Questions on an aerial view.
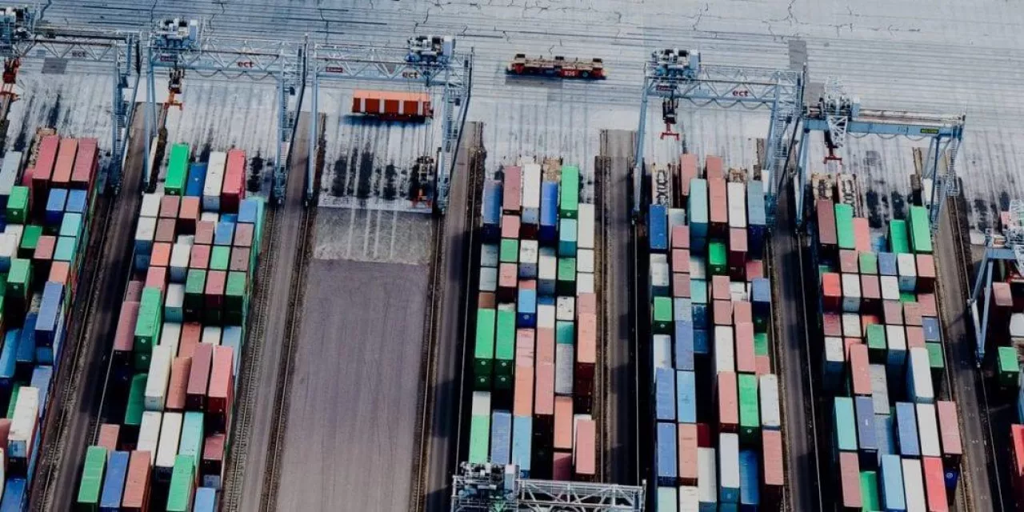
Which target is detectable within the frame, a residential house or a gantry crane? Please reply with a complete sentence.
This aerial view contains a gantry crane.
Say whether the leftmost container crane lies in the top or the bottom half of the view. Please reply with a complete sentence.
It is in the top half that the leftmost container crane appears.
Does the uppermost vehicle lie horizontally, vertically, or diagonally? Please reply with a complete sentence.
In this picture, the uppermost vehicle lies horizontally.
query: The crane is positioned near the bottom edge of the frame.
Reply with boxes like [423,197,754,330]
[450,456,647,512]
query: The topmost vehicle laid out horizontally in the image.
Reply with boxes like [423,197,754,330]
[509,53,602,79]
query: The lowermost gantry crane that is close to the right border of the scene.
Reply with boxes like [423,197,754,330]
[968,197,1024,356]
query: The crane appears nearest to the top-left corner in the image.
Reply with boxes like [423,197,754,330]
[0,4,146,190]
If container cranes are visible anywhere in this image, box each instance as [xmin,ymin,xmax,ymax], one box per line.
[450,456,647,512]
[0,4,146,190]
[632,44,806,227]
[306,31,476,209]
[142,16,311,200]
[968,197,1024,356]
[792,75,969,233]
